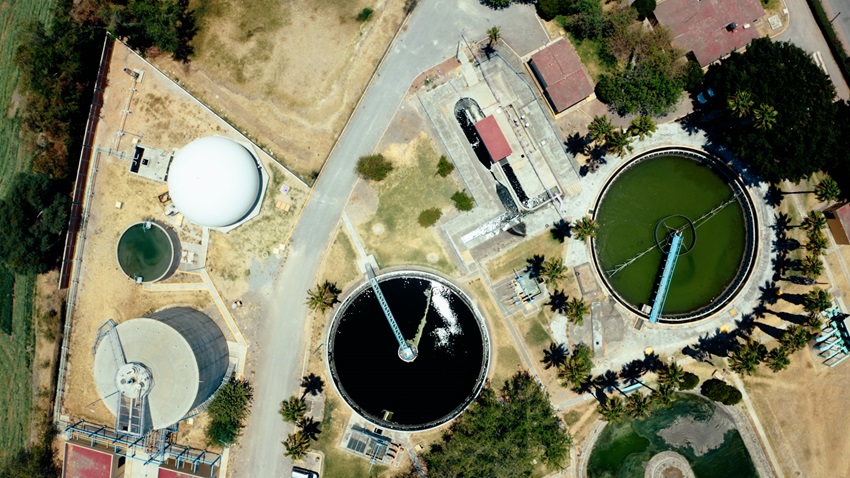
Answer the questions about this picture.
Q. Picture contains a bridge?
Yes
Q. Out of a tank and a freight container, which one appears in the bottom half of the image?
tank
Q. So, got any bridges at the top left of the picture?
No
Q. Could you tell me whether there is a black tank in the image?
Yes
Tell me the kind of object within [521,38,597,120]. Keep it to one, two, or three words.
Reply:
building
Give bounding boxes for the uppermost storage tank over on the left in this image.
[115,222,183,285]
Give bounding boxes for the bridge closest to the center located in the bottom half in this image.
[363,261,411,354]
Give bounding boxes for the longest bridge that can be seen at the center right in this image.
[649,232,686,324]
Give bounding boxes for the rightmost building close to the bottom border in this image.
[340,412,409,472]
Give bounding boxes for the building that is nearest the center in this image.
[490,268,549,319]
